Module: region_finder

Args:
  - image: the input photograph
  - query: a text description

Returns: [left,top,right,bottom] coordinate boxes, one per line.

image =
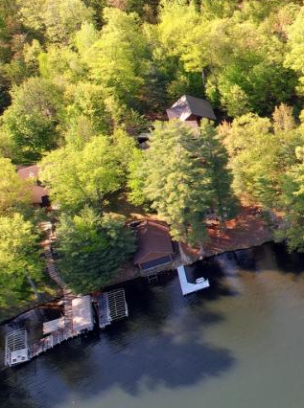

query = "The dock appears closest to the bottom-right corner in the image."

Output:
[178,266,209,296]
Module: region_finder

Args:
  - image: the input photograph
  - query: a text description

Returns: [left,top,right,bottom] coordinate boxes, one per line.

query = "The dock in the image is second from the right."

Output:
[97,290,114,329]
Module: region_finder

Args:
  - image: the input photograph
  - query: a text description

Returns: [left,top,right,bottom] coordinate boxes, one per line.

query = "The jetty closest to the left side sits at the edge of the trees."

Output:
[29,288,96,361]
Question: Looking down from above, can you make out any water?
Yes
